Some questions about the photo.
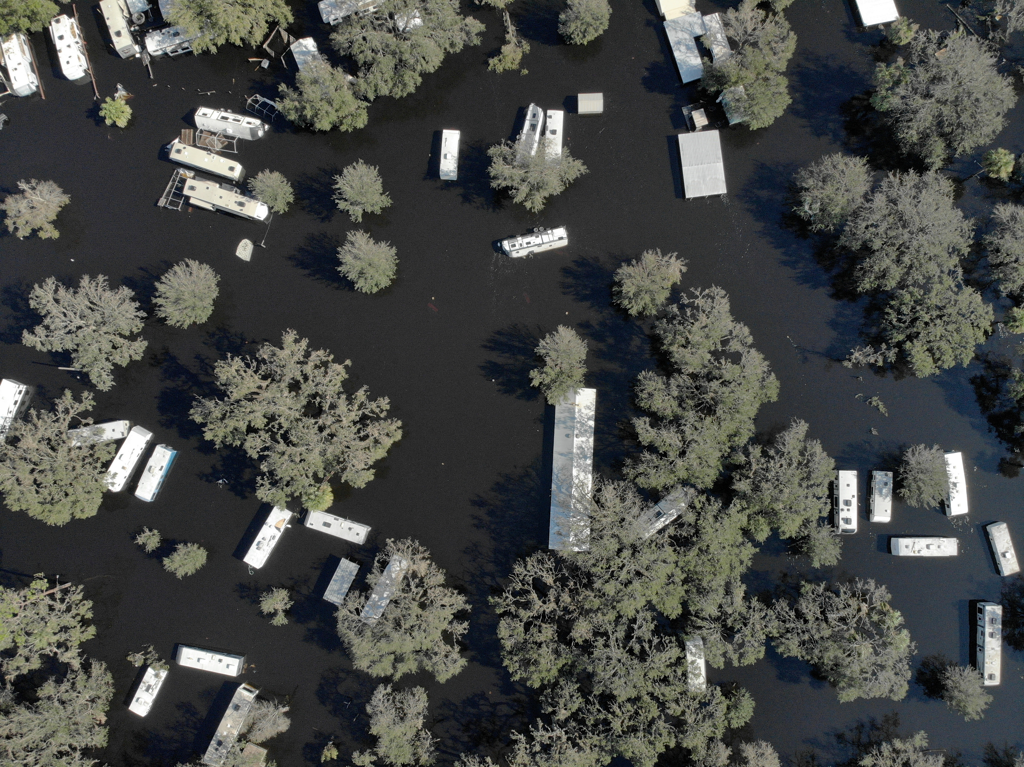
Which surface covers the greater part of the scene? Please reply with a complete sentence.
What you mostly see from above here is water.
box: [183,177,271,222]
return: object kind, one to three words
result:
trailer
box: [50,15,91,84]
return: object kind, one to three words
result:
trailer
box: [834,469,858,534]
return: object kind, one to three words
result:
vehicle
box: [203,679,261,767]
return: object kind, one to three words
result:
vehicle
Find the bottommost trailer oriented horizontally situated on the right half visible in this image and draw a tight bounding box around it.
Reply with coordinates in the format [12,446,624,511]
[886,535,959,556]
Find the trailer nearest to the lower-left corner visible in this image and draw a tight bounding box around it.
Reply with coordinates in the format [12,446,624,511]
[129,661,170,716]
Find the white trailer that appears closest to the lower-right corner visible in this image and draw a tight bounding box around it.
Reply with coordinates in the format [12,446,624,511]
[976,602,1002,685]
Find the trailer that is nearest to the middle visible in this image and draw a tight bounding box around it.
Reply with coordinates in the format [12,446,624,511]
[502,226,568,257]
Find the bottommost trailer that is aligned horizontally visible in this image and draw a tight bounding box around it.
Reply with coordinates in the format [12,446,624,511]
[177,644,245,677]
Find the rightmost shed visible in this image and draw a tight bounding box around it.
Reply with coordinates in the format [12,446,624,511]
[850,0,899,33]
